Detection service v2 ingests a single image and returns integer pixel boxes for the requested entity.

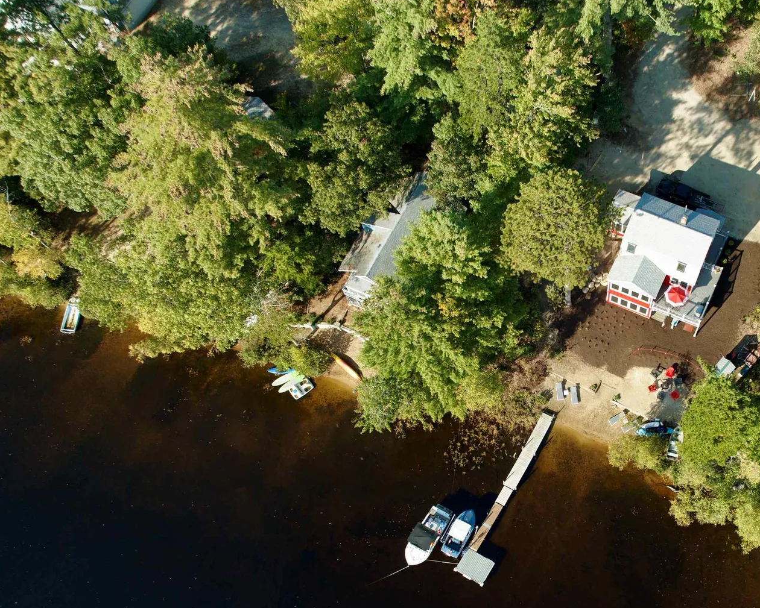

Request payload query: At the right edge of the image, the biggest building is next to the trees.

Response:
[604,189,726,318]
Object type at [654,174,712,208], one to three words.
truck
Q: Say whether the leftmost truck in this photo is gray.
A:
No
